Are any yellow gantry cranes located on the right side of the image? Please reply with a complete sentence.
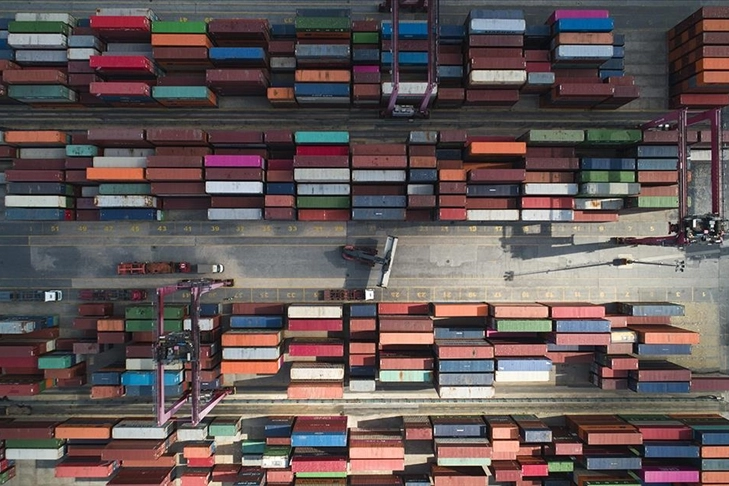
No, there's no yellow gantry crane to be seen on the right side of the image.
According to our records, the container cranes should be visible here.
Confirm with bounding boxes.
[614,102,729,250]
[380,0,439,115]
[150,280,238,427]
